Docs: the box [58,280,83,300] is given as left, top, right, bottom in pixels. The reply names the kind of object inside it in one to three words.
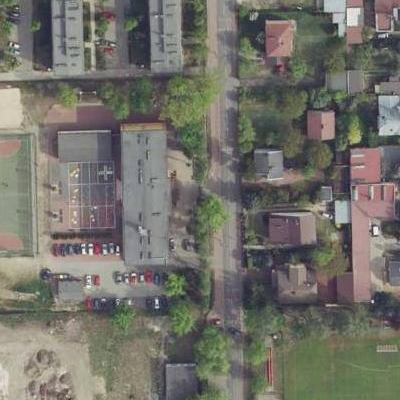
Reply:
building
